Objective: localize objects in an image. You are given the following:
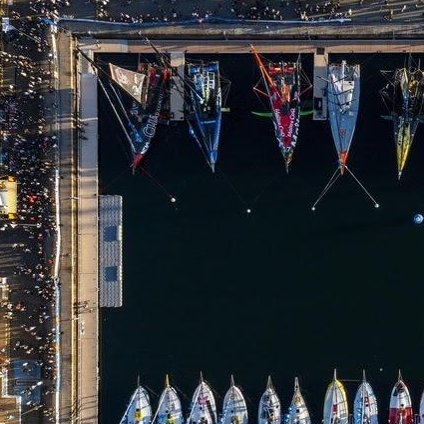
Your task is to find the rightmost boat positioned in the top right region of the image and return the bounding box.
[376,49,424,180]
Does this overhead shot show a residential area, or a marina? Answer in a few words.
marina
